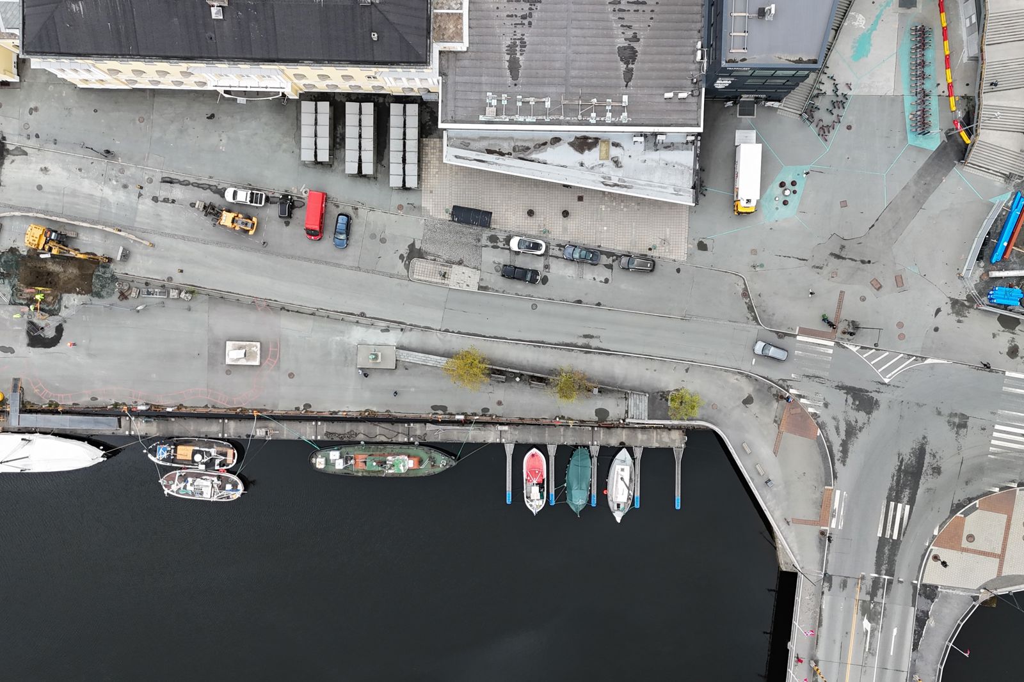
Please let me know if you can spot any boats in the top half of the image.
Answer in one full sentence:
No, no boat is visible in the top half of the image.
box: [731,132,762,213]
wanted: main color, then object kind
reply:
white truck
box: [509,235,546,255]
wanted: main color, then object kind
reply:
white car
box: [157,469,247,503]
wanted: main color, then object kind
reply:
white boat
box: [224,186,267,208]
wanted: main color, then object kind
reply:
white vehicle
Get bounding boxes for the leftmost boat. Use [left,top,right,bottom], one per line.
[0,434,114,472]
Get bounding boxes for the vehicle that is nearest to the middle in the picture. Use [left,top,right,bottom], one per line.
[500,264,542,286]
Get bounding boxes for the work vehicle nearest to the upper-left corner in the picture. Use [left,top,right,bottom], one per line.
[22,225,108,262]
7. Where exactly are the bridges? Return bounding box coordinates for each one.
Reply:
[771,531,996,682]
